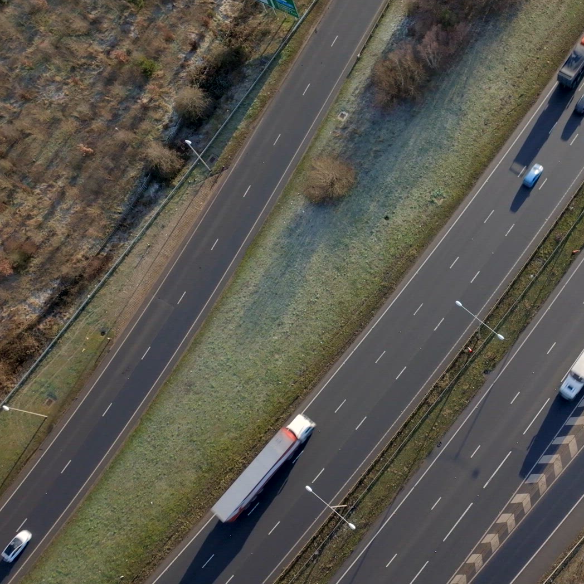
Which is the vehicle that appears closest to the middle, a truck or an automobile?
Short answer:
truck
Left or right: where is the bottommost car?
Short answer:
left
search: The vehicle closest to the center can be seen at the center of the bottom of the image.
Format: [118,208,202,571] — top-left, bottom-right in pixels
[213,410,317,520]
